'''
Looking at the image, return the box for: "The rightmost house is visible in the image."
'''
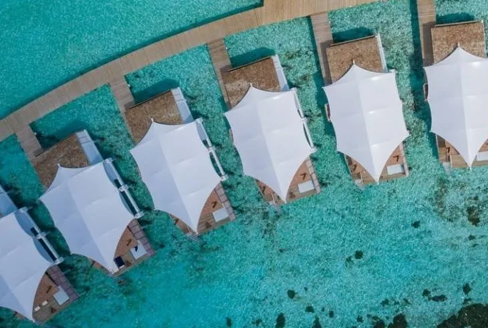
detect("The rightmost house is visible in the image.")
[422,18,488,170]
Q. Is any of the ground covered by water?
Yes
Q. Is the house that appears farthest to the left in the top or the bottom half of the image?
bottom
